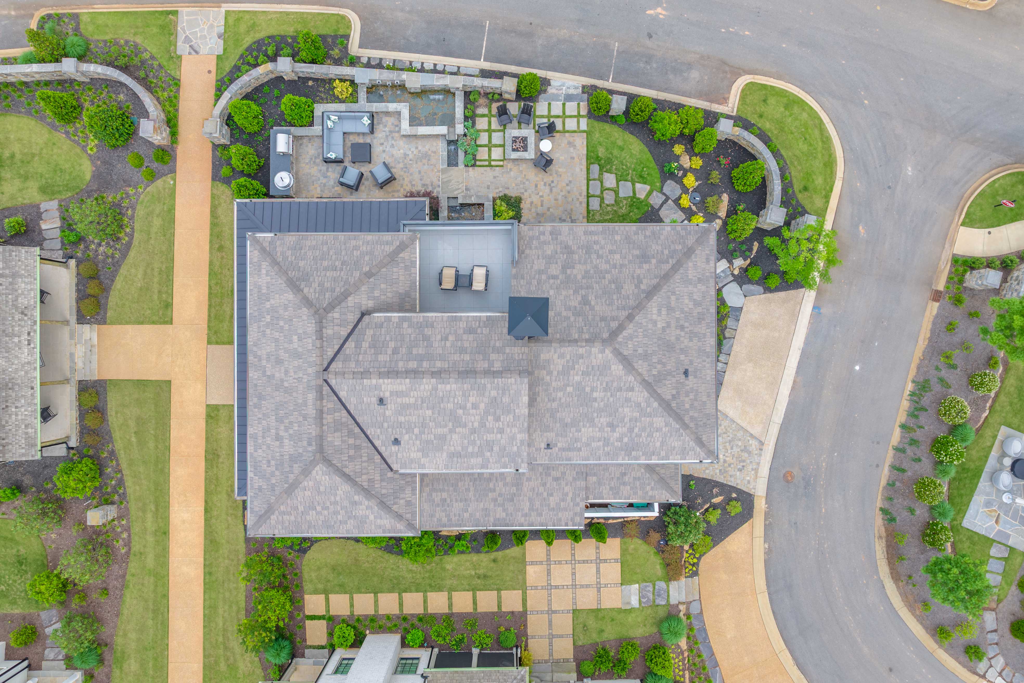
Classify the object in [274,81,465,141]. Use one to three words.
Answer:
fountain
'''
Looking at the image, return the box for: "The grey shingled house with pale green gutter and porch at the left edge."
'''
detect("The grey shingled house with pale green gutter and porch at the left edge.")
[0,245,98,461]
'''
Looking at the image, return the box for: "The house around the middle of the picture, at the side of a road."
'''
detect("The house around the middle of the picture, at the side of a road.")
[233,198,719,539]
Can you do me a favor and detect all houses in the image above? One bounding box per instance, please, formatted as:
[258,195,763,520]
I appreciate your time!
[259,633,531,683]
[0,245,98,461]
[233,198,719,539]
[0,641,87,683]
